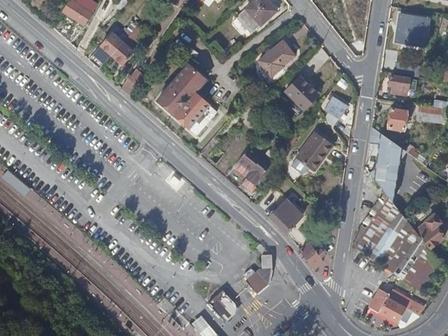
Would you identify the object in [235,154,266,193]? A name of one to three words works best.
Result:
house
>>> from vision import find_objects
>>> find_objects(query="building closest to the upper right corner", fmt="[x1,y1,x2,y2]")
[394,12,431,50]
